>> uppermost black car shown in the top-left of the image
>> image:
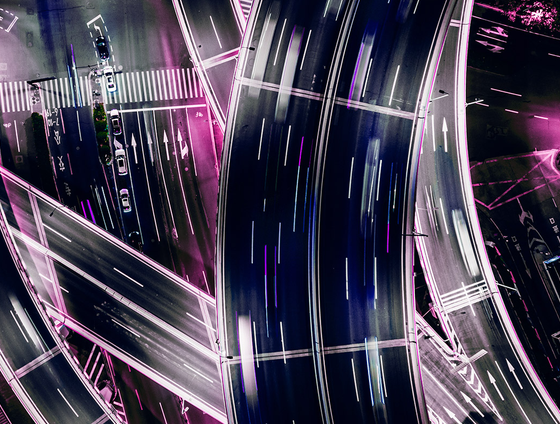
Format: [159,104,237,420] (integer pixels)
[95,35,108,62]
